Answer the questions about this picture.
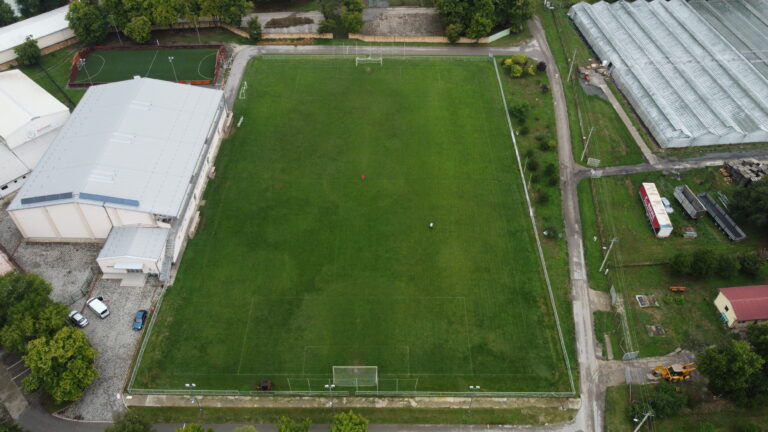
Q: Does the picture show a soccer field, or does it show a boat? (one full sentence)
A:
I can see a soccer field in this picture.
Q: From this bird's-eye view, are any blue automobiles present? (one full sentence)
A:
Yes, you can see a blue automobile in this photo.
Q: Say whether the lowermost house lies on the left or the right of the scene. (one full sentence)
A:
It is on the right.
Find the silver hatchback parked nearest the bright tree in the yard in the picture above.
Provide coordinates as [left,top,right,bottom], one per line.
[67,310,88,329]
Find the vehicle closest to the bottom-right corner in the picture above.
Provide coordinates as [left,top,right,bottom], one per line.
[646,363,697,382]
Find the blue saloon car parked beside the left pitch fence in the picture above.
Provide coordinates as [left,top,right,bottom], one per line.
[130,310,148,332]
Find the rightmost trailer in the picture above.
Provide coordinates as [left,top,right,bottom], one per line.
[695,192,746,241]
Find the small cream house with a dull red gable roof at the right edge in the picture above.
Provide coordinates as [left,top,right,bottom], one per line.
[713,286,768,330]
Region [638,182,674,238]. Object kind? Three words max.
trailer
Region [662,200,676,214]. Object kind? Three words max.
car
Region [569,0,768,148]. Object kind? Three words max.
greenhouse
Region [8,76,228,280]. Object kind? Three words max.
building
